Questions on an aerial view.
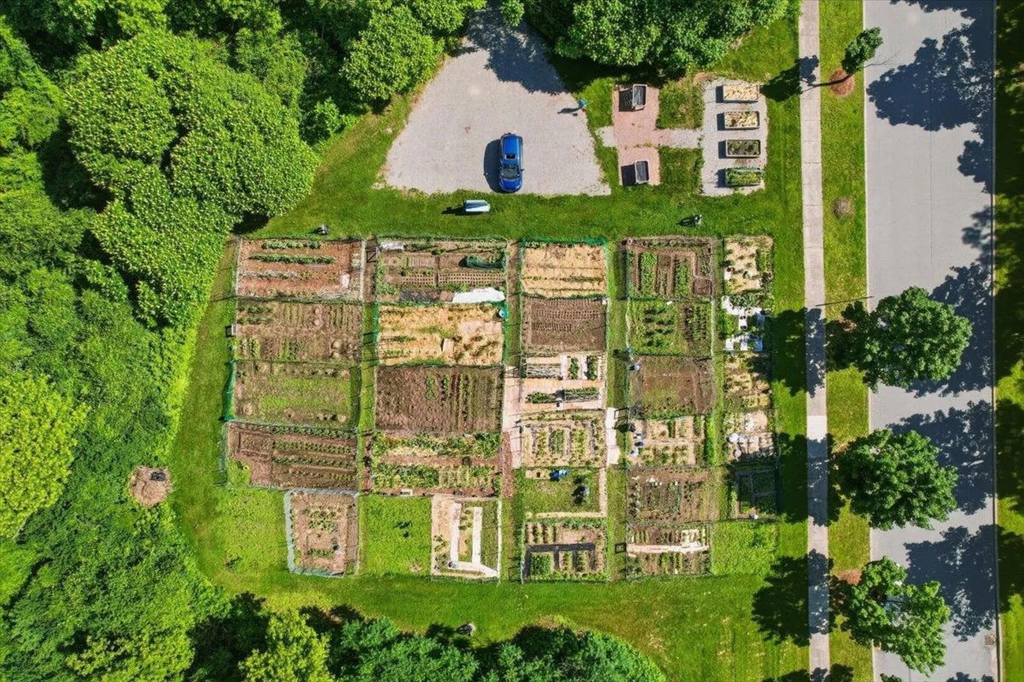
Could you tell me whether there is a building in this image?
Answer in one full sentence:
No, no building can be seen from above.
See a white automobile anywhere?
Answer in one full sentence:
No, there appears to be no white automobile in this shot.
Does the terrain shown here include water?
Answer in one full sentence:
No, there is no water in the image.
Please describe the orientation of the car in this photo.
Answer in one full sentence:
In this picture, the car lies from top to bottom.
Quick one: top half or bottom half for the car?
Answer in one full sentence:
The top half of the photo is where the car is.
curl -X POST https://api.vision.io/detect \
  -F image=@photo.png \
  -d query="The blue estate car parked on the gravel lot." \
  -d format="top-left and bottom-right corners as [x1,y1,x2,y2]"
[497,131,526,192]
